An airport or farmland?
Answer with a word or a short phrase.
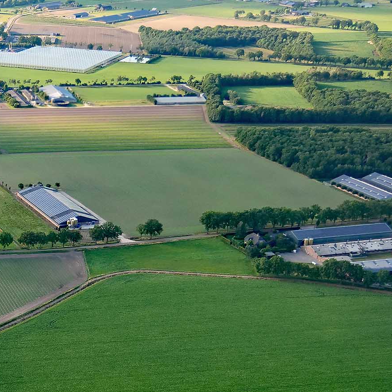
farmland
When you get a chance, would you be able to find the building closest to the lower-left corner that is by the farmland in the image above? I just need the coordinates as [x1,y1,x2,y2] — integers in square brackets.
[16,185,100,229]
